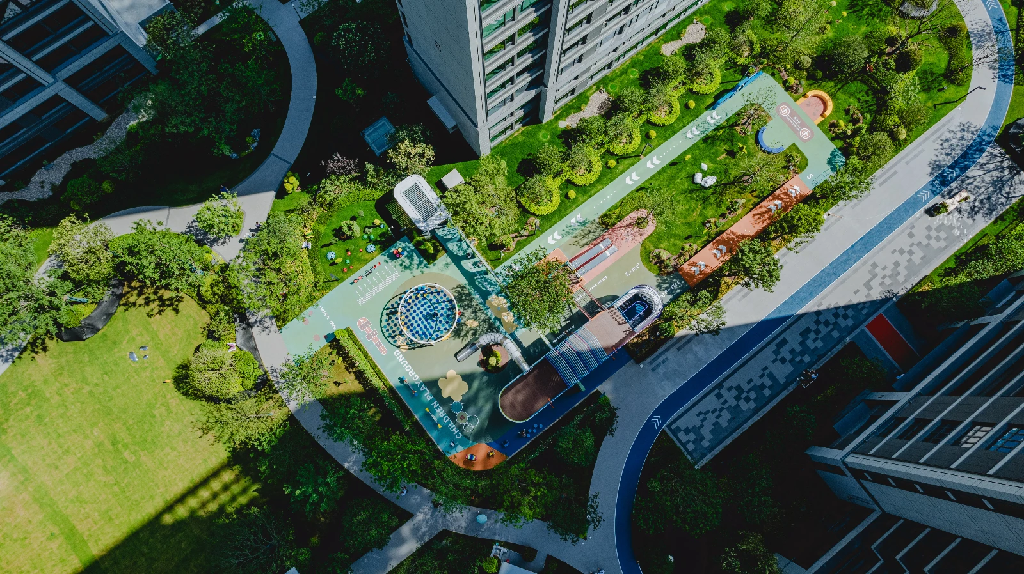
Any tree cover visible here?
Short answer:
Yes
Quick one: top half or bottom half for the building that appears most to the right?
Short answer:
bottom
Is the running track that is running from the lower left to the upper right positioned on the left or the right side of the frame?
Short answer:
right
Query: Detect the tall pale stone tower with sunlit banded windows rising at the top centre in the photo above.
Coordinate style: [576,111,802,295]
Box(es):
[387,0,702,157]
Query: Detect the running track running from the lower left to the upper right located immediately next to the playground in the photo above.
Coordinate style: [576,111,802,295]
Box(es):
[615,0,1014,570]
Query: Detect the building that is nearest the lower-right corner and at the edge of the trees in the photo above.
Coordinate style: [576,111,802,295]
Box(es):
[792,300,1024,574]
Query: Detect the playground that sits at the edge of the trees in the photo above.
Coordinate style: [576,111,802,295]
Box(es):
[280,75,844,471]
